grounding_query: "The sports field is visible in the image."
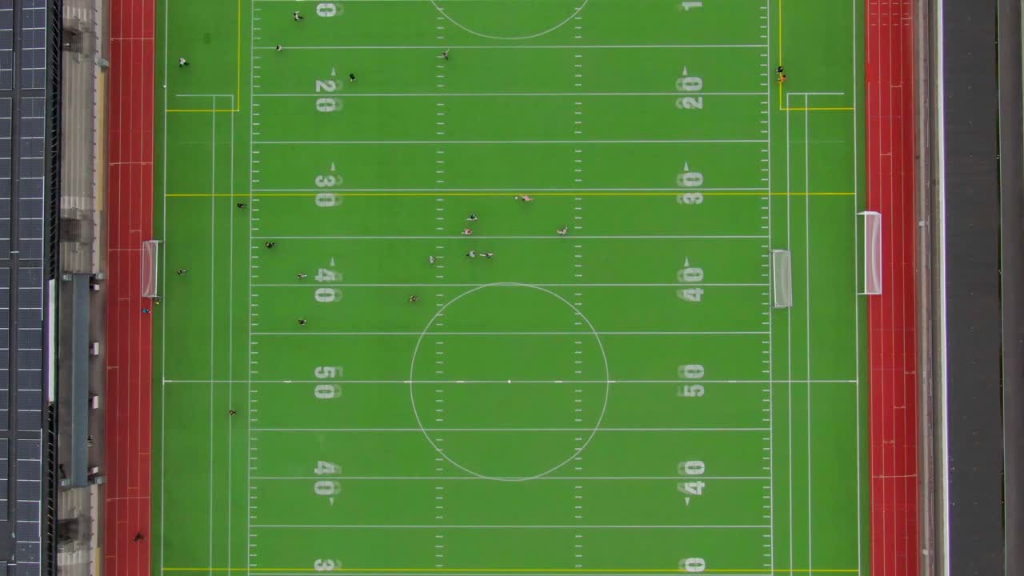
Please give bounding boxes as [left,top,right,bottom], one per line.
[151,0,871,576]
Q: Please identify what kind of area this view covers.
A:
sports ground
